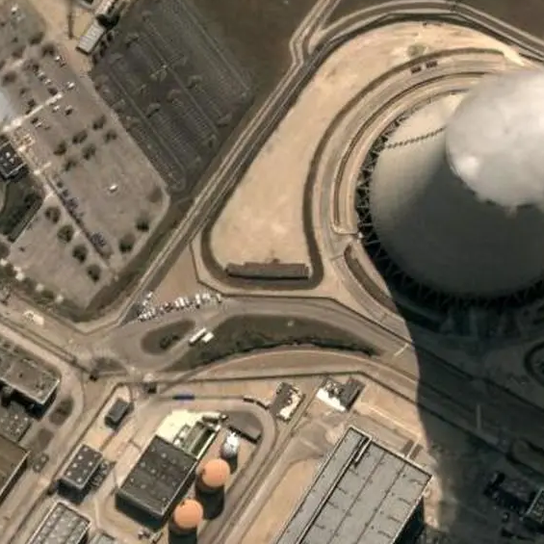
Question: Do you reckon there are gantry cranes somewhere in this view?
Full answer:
No, no gantry crane is visible in the view.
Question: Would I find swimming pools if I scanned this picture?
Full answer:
No, the frame has no swimming pool in it.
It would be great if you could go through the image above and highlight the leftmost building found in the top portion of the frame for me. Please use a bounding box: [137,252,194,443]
[0,142,24,178]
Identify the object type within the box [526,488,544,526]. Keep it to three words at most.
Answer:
shed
